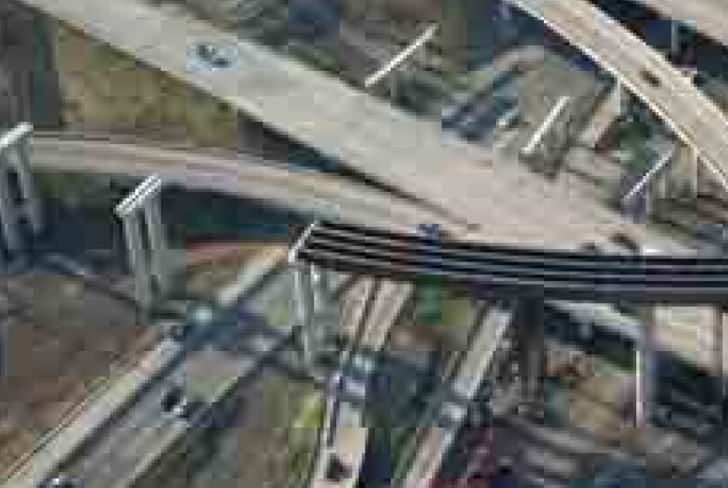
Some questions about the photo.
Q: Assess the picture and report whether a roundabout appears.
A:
No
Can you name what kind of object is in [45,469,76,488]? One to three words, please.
car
